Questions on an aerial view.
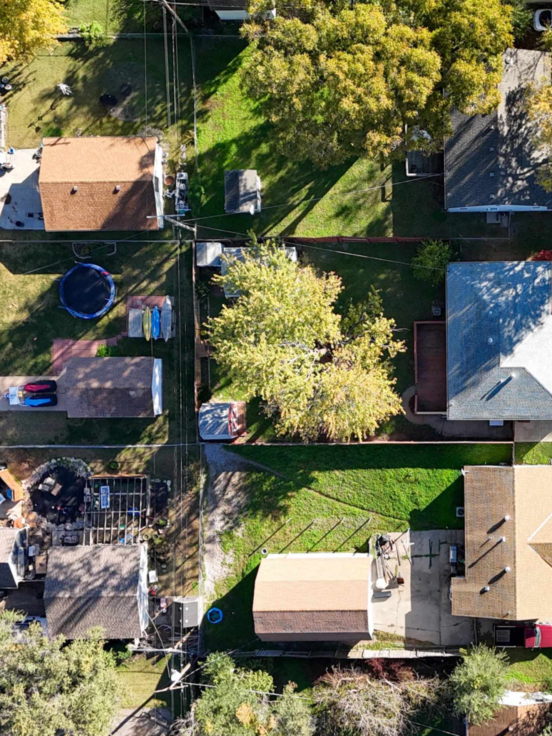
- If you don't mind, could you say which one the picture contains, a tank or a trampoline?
trampoline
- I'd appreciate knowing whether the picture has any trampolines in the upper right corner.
No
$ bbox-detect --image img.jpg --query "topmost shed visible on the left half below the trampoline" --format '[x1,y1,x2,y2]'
[60,357,163,417]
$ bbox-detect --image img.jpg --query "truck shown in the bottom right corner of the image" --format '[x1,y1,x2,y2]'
[491,620,552,649]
